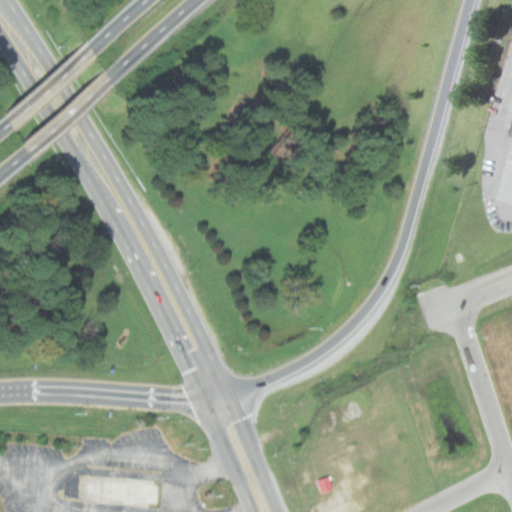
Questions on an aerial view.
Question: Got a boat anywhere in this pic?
No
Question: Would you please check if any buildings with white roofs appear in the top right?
No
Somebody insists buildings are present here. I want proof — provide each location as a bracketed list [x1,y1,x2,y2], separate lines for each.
[316,477,332,494]
[76,476,158,508]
